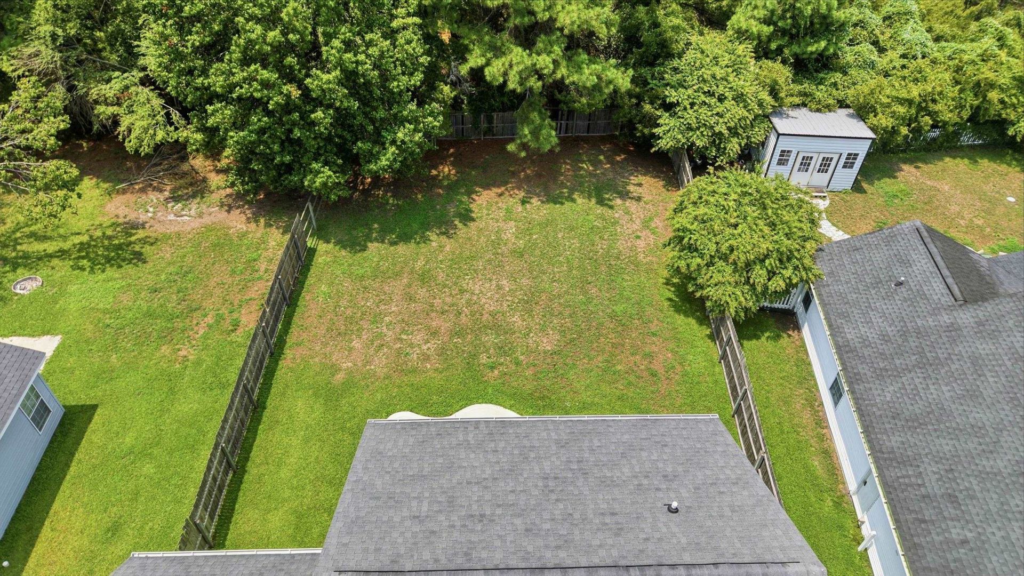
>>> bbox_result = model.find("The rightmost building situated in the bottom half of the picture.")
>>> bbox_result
[791,222,1024,576]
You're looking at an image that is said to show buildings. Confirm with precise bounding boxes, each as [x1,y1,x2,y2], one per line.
[791,222,1024,576]
[764,104,875,189]
[116,412,822,576]
[0,343,65,537]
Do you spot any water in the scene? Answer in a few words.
No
